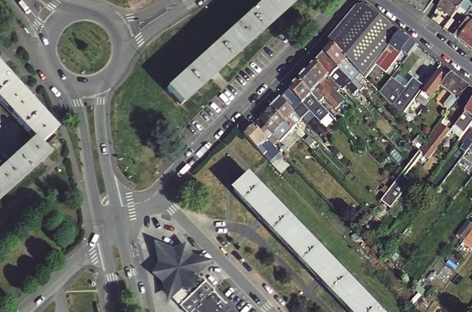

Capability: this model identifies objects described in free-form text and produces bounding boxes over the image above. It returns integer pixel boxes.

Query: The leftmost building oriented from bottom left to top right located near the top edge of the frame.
[166,0,298,105]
